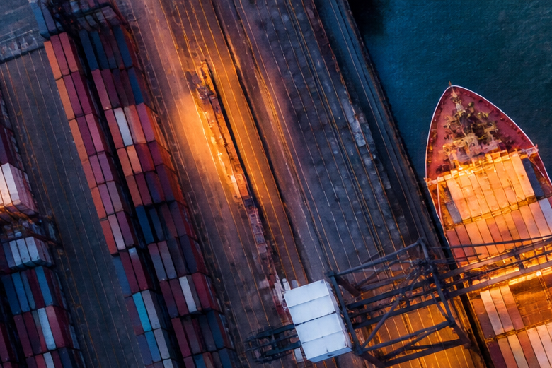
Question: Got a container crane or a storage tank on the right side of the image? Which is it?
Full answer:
You can see a container crane on the right side of the image.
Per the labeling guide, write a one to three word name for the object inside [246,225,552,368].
container crane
